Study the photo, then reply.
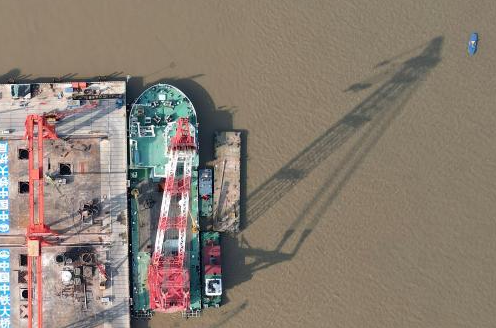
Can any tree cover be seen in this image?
No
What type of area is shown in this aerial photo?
port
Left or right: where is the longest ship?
left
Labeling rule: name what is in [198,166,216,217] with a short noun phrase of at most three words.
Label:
boat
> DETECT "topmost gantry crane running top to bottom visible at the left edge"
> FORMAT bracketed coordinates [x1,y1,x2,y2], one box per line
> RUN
[22,115,60,237]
